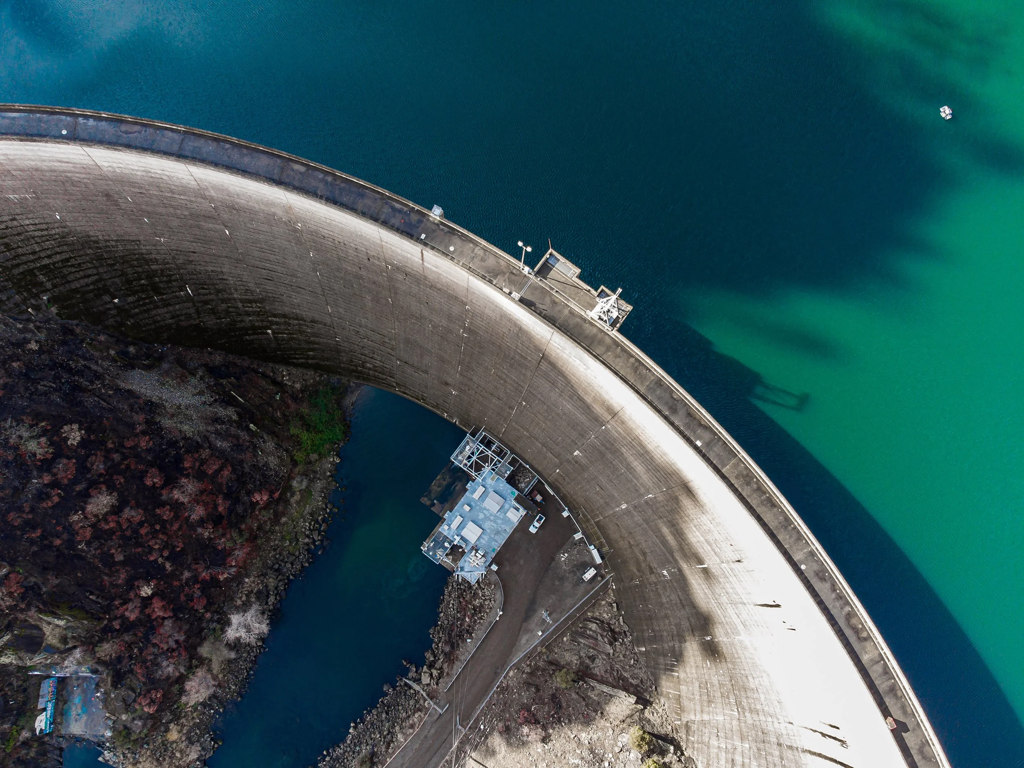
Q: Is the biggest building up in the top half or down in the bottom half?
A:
bottom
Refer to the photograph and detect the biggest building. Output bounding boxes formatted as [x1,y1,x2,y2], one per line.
[439,475,526,584]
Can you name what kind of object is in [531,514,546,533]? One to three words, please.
vehicle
